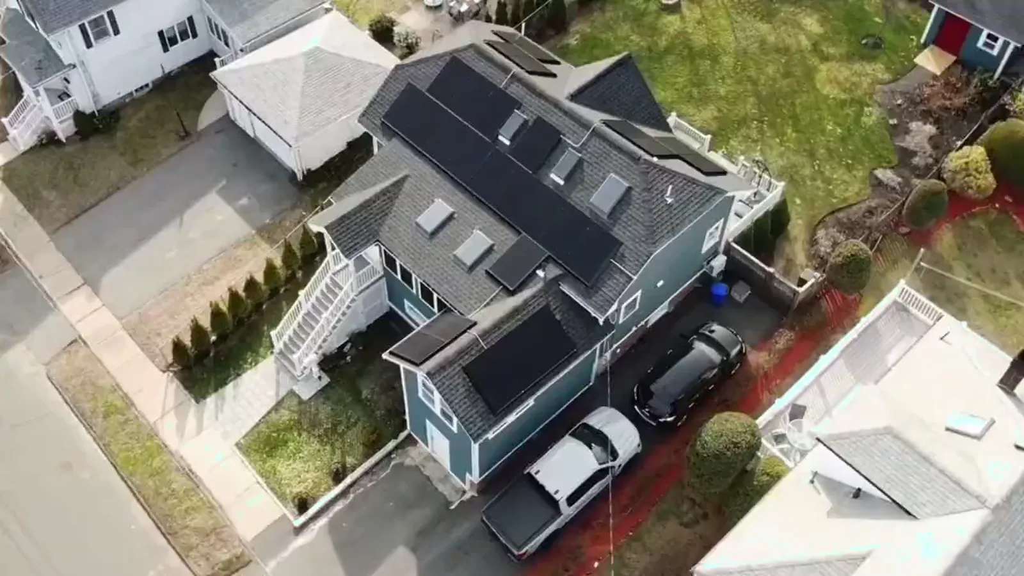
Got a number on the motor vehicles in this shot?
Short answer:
2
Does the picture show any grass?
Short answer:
Yes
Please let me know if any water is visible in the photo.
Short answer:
No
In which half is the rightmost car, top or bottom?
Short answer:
bottom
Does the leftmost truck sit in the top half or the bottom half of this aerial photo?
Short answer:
bottom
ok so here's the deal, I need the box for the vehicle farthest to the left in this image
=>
[478,410,643,565]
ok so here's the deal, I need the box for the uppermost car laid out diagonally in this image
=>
[627,325,749,437]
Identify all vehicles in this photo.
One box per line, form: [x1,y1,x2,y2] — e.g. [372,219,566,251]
[478,410,643,565]
[627,325,749,437]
